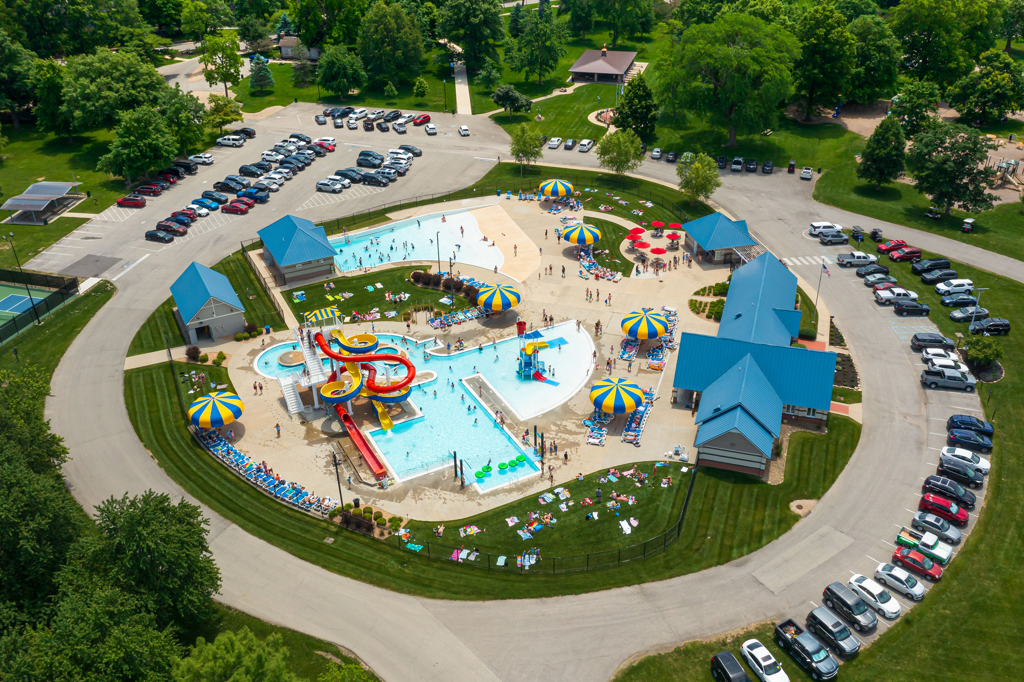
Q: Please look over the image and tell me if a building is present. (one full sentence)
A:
Yes, looking at the shot, I can spot a building.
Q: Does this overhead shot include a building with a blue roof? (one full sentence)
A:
Yes, the image includes a building with a blue roof.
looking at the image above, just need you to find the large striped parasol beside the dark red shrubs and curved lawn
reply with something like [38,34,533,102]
[476,285,522,318]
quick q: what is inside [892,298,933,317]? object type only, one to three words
car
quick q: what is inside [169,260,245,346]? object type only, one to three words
building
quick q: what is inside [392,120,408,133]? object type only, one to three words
vehicle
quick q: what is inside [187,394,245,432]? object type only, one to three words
umbrella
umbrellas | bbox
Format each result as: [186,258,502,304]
[663,233,682,242]
[666,222,683,233]
[649,220,666,231]
[628,227,647,235]
[539,179,574,204]
[621,311,670,346]
[187,394,245,432]
[649,247,668,256]
[562,225,602,251]
[476,285,522,318]
[624,234,643,242]
[589,379,645,419]
[632,241,652,254]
